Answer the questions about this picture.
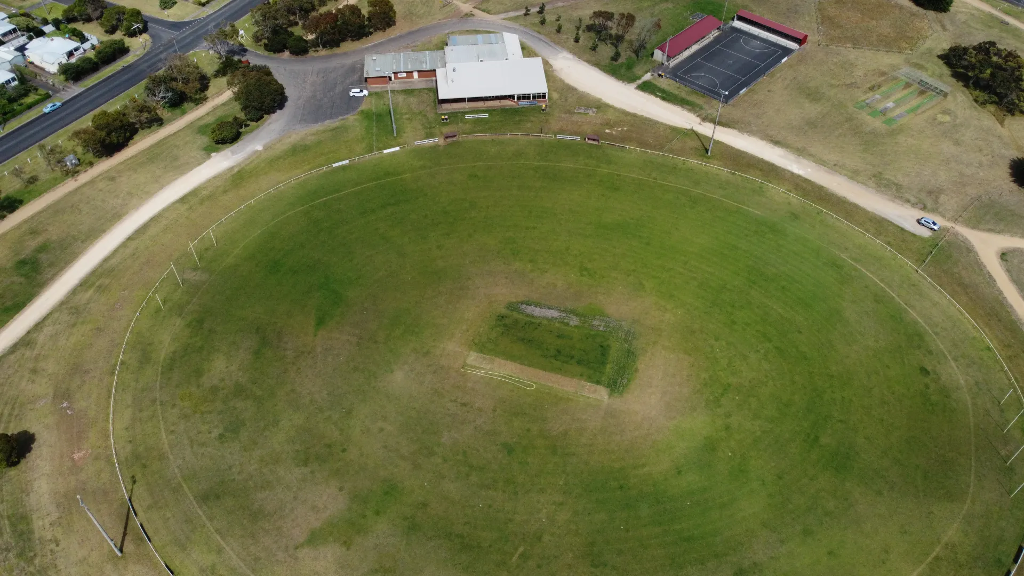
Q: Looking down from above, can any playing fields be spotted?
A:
Yes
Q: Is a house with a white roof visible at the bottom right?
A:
No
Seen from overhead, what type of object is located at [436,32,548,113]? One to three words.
building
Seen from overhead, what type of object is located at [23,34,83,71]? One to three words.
house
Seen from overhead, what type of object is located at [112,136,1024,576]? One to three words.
sports field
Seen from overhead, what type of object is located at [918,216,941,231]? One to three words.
car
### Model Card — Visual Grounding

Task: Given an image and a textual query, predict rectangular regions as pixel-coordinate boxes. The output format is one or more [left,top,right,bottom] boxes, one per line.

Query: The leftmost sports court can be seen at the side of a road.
[662,25,795,101]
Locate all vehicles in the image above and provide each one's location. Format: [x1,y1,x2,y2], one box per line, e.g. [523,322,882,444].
[42,103,62,113]
[349,89,368,97]
[918,216,941,231]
